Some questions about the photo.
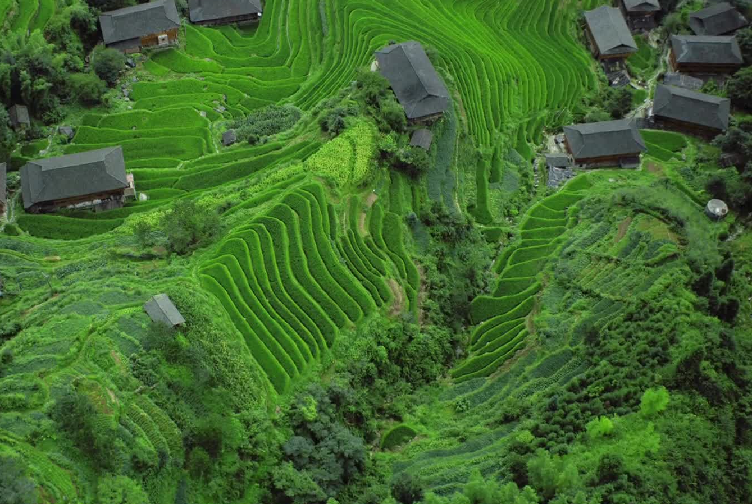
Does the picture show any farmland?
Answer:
Yes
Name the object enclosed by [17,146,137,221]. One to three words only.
house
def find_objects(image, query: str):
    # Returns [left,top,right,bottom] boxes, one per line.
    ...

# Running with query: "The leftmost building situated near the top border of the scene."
[93,0,186,56]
